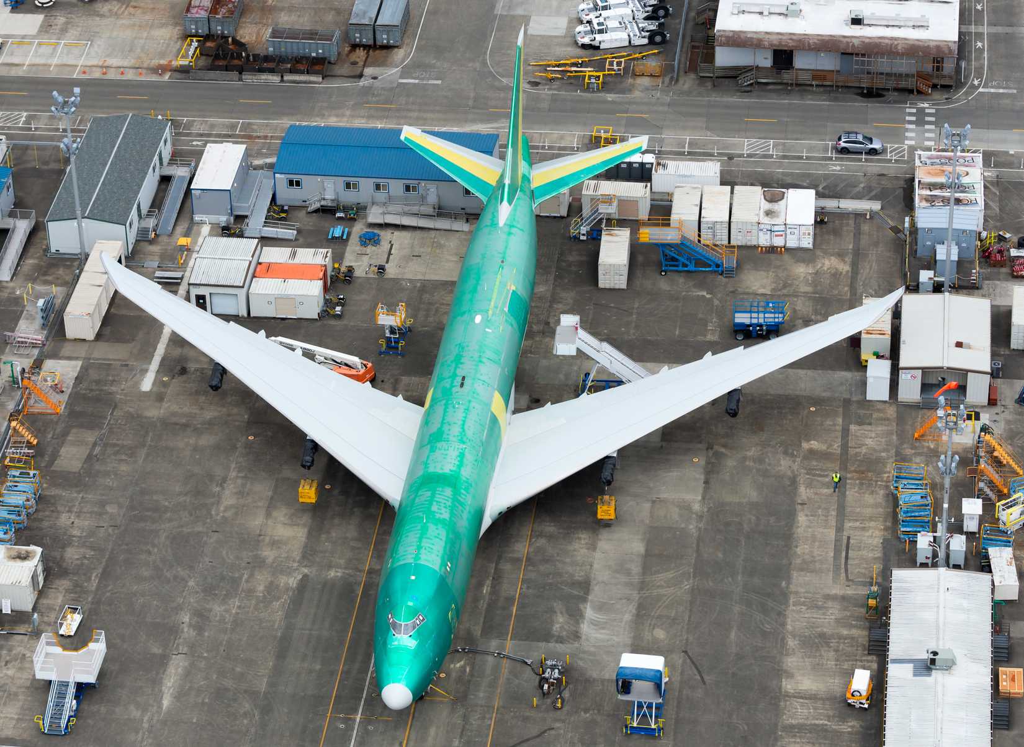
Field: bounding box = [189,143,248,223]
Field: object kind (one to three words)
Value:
building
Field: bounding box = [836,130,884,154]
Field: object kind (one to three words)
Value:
car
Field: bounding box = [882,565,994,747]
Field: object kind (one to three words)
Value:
shed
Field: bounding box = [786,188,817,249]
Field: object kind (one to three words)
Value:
shipping container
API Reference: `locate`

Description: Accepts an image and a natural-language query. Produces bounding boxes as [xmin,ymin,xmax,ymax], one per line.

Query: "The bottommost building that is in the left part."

[185,234,262,314]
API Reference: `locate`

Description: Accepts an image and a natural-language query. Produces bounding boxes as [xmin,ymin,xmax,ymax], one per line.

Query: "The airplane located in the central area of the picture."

[103,25,901,712]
